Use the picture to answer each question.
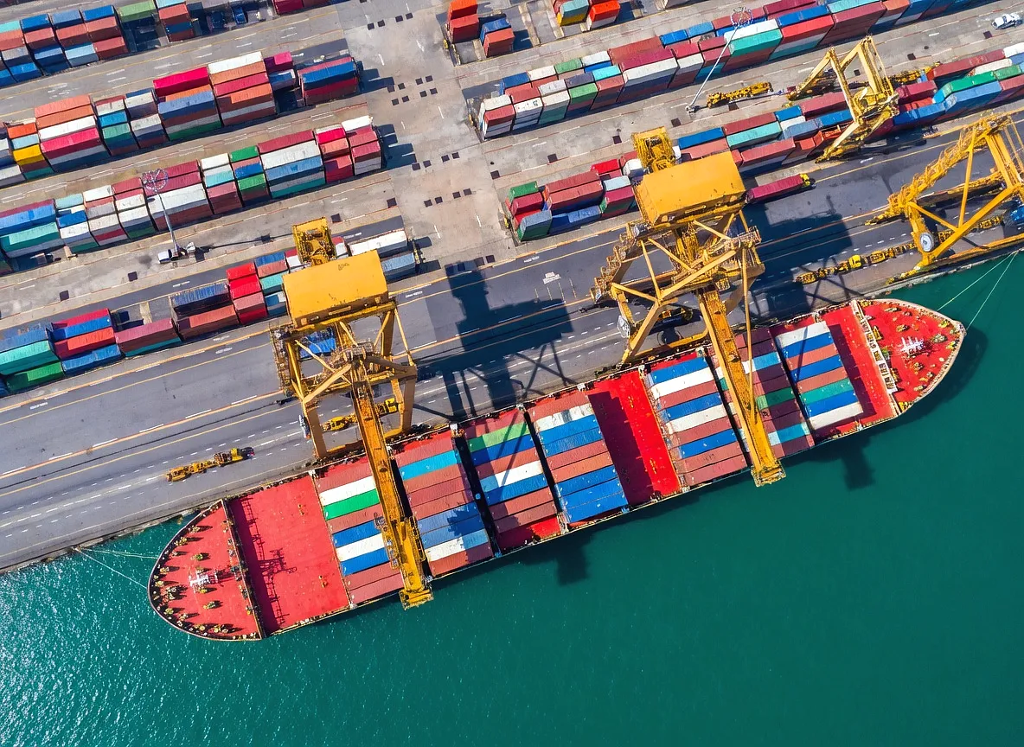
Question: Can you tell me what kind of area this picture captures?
port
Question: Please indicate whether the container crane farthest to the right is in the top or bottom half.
top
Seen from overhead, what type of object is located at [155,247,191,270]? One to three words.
truck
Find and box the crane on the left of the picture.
[258,215,432,609]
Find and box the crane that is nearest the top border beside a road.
[789,36,906,161]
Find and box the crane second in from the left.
[583,118,795,484]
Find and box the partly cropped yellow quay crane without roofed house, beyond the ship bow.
[852,113,1024,272]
